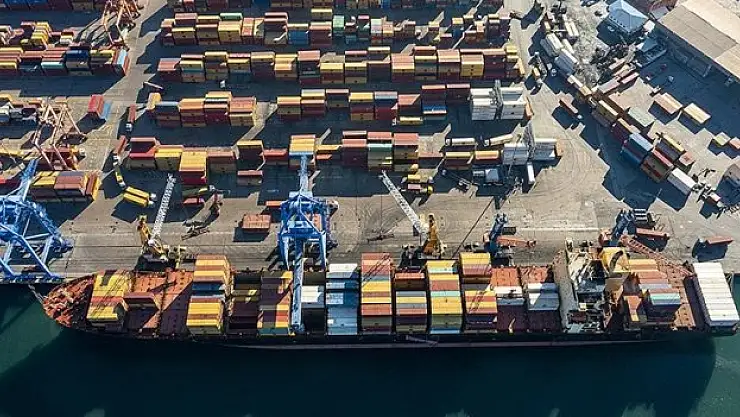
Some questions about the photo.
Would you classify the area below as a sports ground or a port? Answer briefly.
port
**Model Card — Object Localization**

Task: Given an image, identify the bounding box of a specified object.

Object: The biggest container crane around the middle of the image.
[273,151,333,335]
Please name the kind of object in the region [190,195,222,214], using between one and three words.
work vehicle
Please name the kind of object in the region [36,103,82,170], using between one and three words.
crane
